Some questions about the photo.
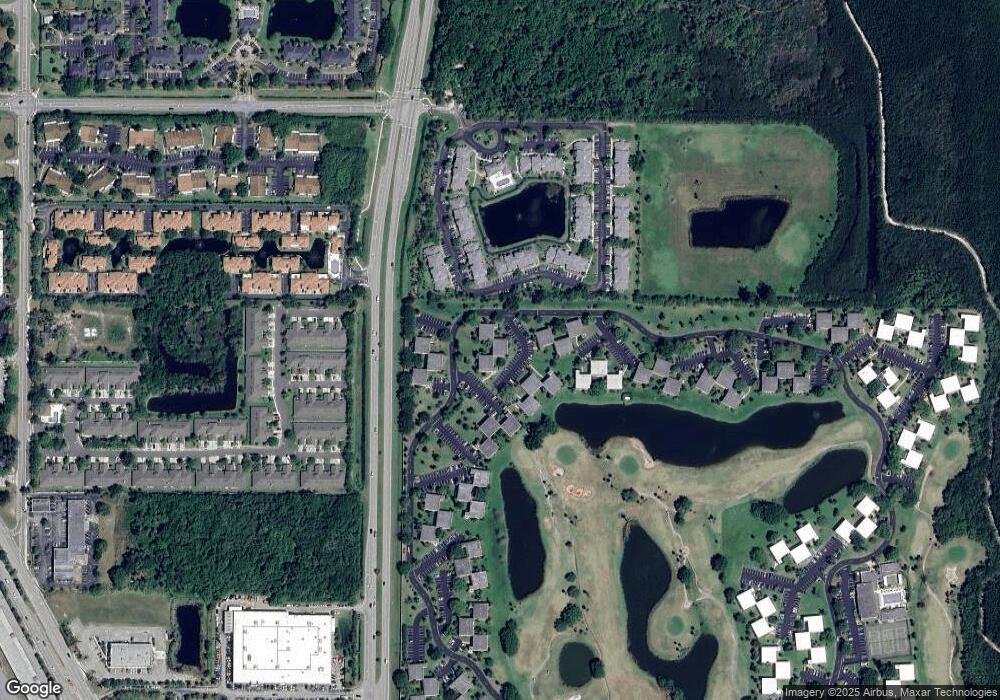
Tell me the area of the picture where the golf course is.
bottom right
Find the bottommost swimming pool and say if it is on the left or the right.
right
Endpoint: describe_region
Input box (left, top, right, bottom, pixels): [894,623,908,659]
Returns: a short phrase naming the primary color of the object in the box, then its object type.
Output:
gray tennis court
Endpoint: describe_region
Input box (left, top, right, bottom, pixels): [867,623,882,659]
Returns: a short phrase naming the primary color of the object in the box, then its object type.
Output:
gray tennis court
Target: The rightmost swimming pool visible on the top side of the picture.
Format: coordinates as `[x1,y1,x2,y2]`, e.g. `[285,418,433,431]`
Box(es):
[491,173,514,190]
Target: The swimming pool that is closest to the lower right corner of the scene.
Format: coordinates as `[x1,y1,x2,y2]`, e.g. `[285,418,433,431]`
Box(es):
[879,589,906,608]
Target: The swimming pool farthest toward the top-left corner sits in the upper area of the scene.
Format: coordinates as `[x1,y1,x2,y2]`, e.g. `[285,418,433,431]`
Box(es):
[239,6,260,20]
